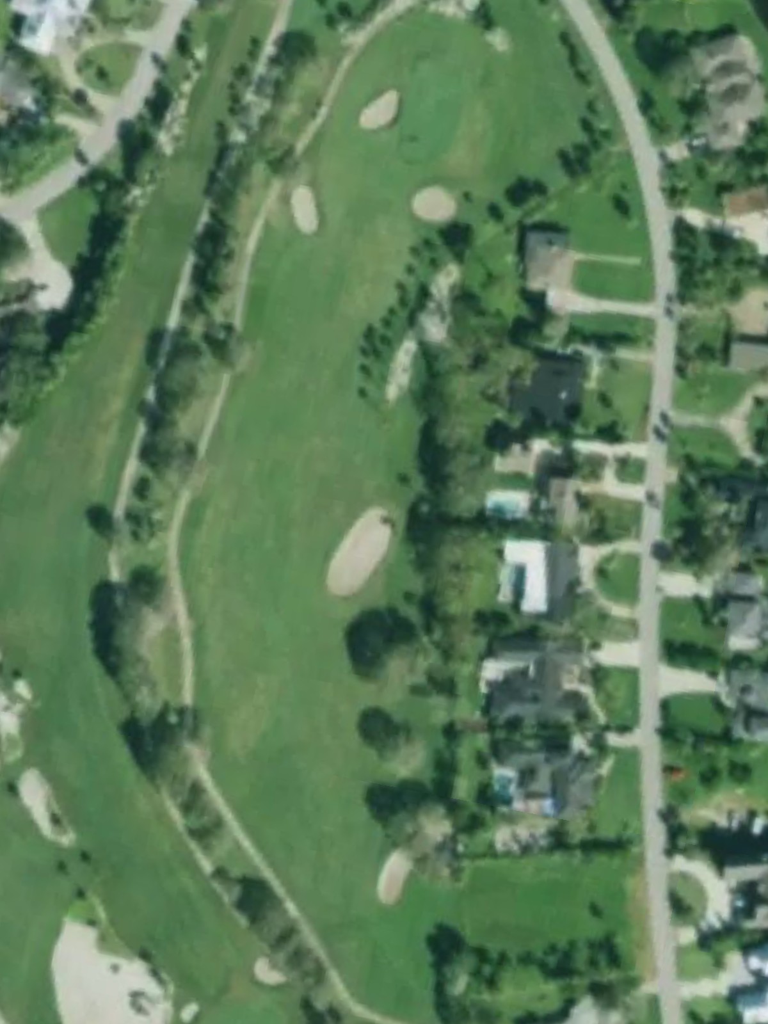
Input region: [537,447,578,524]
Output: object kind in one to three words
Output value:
house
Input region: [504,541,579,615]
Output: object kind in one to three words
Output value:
house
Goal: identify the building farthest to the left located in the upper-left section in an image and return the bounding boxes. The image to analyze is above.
[0,59,34,119]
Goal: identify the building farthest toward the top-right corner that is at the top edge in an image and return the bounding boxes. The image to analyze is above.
[700,34,767,150]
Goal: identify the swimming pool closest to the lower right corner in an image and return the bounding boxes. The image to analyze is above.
[494,769,516,808]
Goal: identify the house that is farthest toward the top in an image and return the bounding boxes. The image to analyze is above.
[11,0,92,53]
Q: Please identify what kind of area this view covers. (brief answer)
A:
golf course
